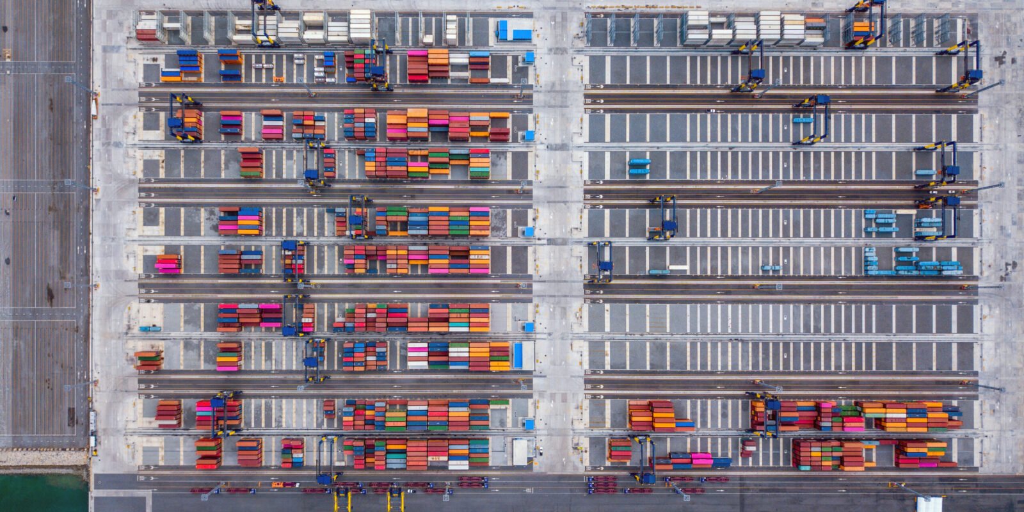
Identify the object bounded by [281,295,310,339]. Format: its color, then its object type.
blue container crane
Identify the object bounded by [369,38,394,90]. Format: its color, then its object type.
blue container crane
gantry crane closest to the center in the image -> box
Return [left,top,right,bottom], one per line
[587,240,614,283]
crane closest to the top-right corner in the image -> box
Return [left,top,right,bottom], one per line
[936,40,983,92]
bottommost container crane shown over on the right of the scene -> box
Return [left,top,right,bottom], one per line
[627,437,656,487]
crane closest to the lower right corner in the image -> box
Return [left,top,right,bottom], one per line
[746,393,782,441]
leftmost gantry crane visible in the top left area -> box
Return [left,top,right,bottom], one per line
[168,93,204,142]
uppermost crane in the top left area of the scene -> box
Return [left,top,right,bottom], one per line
[251,0,281,46]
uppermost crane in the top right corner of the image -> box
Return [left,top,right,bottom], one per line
[846,0,887,48]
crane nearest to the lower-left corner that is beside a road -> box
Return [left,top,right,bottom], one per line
[208,391,241,439]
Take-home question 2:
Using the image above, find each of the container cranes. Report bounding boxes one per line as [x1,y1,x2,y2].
[305,139,333,186]
[846,0,887,48]
[627,437,656,487]
[792,95,831,144]
[316,436,343,486]
[914,196,960,241]
[731,39,766,91]
[369,38,394,90]
[168,93,204,142]
[587,240,614,283]
[936,40,983,92]
[303,340,331,385]
[251,0,281,46]
[281,239,311,282]
[348,195,374,239]
[281,295,310,339]
[647,196,678,240]
[746,393,782,441]
[914,141,960,188]
[208,391,241,439]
